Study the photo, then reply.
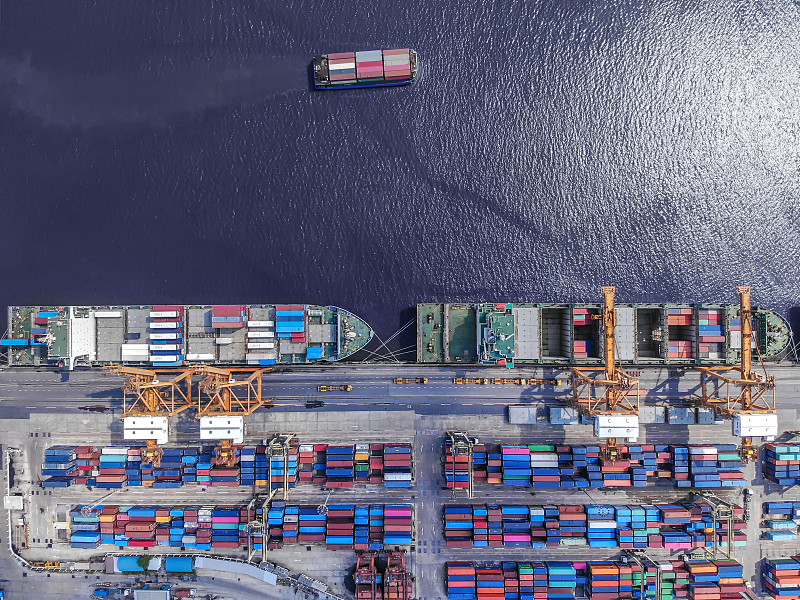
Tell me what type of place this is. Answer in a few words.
port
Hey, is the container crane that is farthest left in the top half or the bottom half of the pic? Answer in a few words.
bottom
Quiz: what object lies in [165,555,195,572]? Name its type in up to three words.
building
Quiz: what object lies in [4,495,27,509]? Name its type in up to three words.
building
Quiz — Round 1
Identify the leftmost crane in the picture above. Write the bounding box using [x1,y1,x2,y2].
[101,362,203,470]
